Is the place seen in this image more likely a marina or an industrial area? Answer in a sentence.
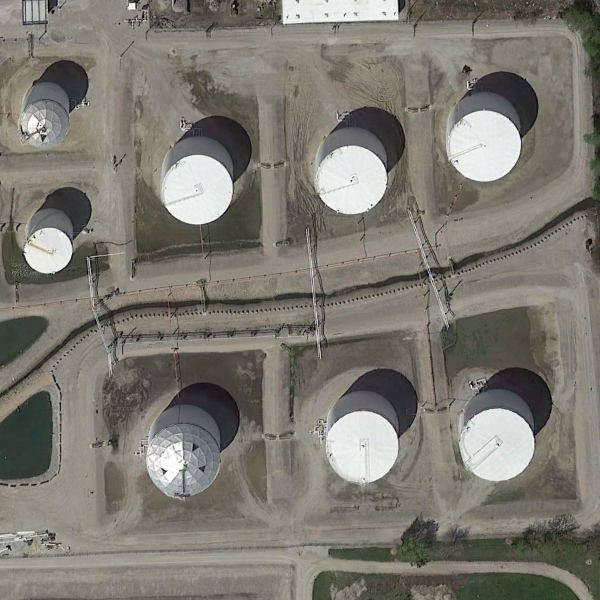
What you see here is an industrial area.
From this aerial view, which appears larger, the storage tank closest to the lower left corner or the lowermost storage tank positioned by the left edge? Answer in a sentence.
Of the two, the storage tank closest to the lower left corner is larger and the lowermost storage tank positioned by the left edge is the smaller one.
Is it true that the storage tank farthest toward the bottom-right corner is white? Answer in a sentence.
Yes, the storage tank farthest toward the bottom-right corner is white.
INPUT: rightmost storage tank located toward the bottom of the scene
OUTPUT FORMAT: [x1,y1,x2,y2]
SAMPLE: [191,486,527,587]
[459,388,537,483]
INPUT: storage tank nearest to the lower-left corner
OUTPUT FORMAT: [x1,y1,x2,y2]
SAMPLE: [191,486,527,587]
[144,404,222,500]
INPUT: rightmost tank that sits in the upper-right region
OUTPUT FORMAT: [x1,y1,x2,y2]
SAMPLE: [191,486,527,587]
[447,90,524,182]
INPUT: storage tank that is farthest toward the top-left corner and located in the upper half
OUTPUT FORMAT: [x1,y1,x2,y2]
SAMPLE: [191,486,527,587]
[14,81,70,148]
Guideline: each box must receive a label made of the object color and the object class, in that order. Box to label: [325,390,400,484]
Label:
white storage tank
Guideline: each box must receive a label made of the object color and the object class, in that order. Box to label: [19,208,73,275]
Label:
white storage tank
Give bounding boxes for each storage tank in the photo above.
[144,404,222,500]
[161,136,234,225]
[325,390,400,484]
[14,81,70,148]
[447,90,524,182]
[315,126,389,215]
[19,208,73,275]
[459,388,537,483]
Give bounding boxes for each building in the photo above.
[282,0,398,25]
[21,0,51,26]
